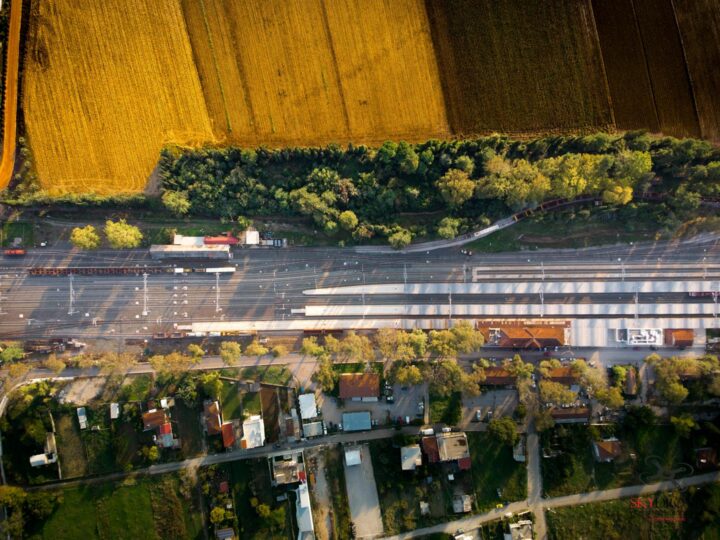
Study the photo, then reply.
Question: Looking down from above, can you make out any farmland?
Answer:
Yes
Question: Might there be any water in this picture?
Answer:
No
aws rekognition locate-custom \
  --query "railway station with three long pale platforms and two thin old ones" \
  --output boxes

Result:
[176,266,720,347]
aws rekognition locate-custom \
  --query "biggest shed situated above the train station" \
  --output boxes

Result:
[149,245,233,259]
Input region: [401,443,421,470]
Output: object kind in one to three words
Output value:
house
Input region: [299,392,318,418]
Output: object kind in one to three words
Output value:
building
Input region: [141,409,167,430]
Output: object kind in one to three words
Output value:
house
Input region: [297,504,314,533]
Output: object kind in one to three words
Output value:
building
